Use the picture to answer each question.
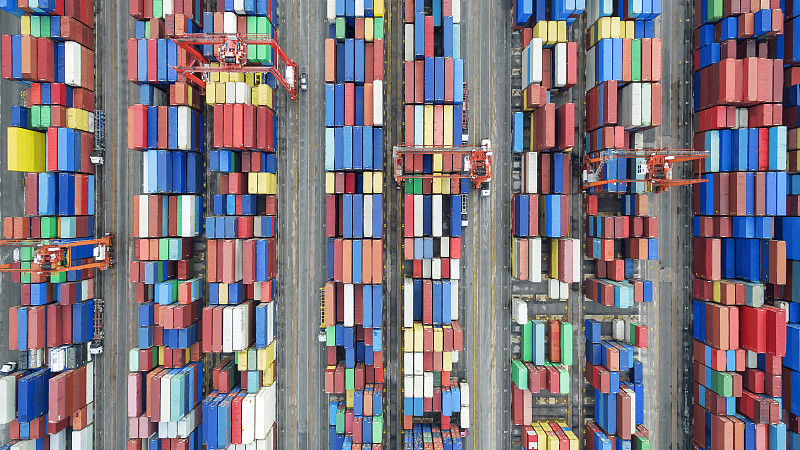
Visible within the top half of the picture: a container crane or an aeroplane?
container crane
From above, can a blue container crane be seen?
No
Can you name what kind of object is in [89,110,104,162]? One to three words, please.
vehicle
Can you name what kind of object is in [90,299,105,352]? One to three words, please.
vehicle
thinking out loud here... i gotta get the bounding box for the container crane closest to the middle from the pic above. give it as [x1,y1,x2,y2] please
[396,141,495,194]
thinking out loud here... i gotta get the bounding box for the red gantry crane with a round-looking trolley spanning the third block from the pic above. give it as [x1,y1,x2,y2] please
[170,31,298,102]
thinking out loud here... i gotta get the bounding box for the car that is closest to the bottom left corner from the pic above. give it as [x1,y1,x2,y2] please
[1,359,19,373]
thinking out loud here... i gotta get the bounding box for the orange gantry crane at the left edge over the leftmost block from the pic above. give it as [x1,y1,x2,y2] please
[0,233,115,277]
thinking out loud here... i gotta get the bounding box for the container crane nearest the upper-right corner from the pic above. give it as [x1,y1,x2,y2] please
[578,145,715,197]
